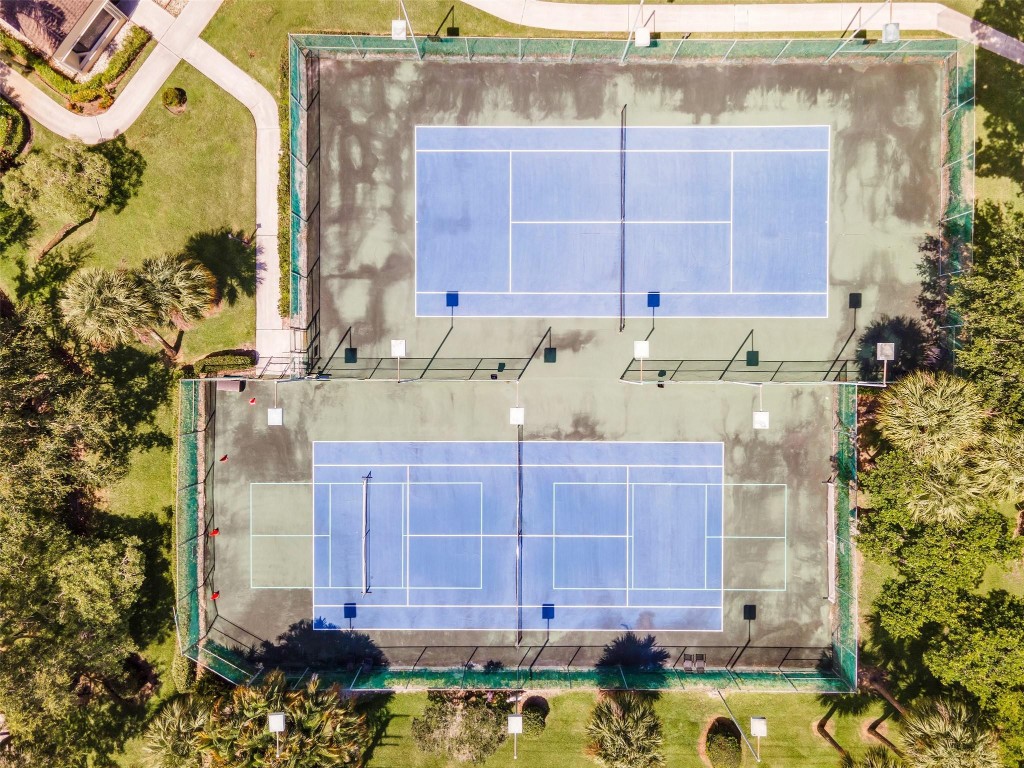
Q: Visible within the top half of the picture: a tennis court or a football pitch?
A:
tennis court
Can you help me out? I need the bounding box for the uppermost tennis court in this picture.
[308,60,942,380]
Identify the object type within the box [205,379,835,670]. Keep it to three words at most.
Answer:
tennis court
